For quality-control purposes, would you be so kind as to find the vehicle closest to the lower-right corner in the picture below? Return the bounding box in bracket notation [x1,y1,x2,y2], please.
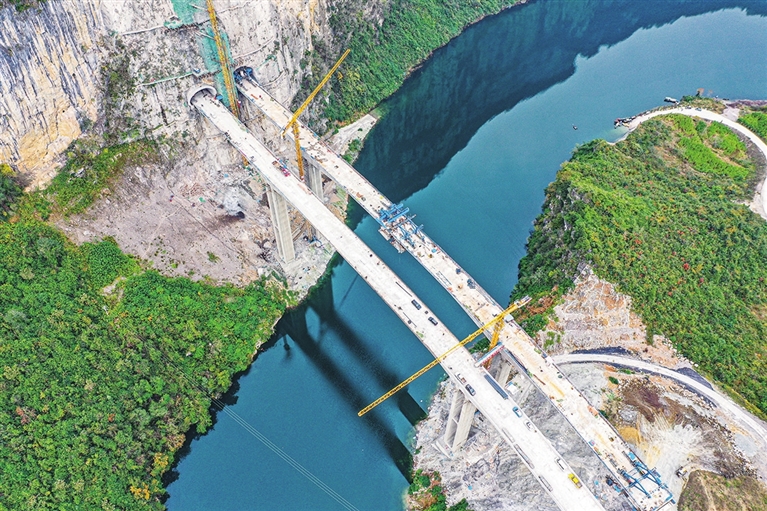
[672,460,693,476]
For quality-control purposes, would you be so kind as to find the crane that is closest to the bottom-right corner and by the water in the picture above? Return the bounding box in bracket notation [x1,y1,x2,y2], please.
[358,290,527,416]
